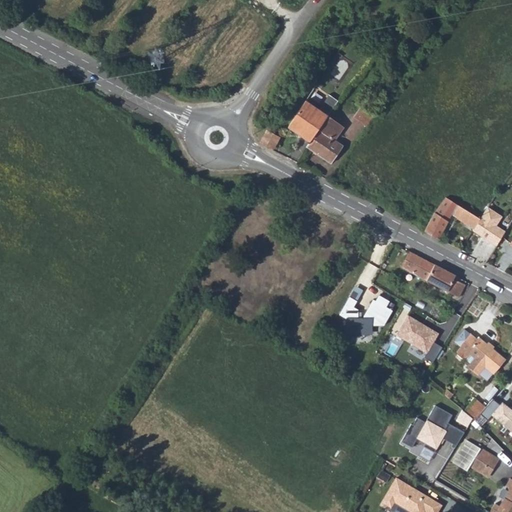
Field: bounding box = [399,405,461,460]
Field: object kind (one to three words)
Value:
house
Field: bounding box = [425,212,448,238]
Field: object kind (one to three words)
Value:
barn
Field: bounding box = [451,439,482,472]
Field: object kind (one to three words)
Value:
greenhouse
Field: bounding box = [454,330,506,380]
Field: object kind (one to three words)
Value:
house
